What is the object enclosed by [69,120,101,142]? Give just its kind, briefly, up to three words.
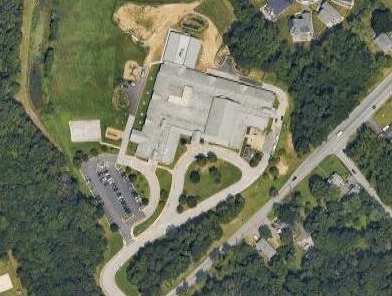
sports court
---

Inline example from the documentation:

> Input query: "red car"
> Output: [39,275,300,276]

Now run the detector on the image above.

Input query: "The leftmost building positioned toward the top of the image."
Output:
[130,28,275,165]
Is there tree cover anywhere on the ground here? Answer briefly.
Yes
